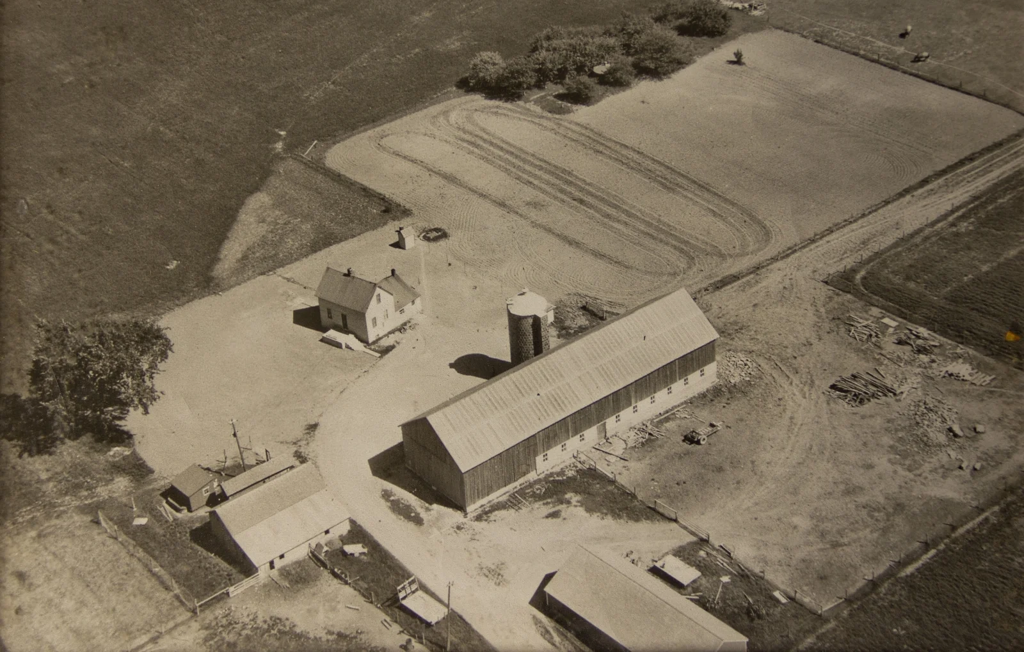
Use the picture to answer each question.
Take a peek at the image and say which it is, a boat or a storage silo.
storage silo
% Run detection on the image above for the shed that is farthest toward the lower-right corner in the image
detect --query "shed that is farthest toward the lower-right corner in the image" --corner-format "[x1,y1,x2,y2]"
[543,545,749,652]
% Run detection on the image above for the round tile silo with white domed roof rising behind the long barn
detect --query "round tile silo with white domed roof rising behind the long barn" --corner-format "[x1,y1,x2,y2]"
[505,289,557,371]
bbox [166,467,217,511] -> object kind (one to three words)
shed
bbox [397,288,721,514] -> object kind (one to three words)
barn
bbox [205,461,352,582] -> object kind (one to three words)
barn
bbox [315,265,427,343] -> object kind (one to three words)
house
